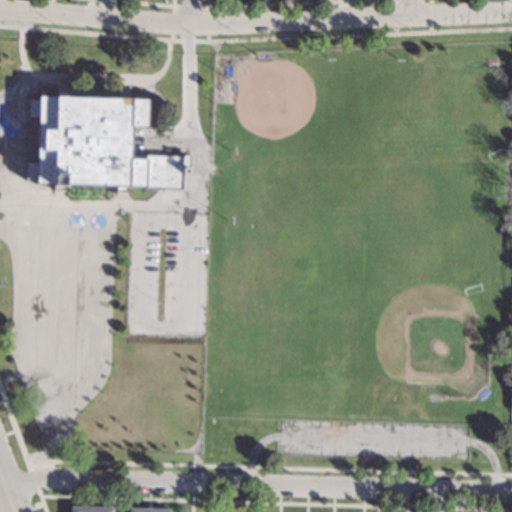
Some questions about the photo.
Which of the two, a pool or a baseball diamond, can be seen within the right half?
baseball diamond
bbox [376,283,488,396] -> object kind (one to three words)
baseball field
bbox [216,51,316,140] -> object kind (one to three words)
baseball field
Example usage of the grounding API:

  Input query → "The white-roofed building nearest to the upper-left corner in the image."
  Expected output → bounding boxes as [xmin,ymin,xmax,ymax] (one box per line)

[38,94,191,191]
